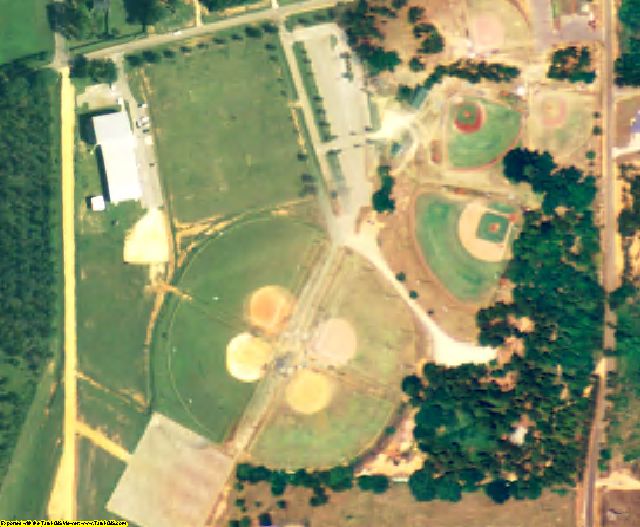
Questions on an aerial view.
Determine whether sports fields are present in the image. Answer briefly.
Yes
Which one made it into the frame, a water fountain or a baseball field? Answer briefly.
baseball field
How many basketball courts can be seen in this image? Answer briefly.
0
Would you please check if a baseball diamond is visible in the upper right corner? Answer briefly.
Yes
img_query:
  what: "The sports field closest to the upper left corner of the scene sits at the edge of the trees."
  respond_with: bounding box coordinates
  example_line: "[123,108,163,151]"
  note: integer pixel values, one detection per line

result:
[133,36,319,224]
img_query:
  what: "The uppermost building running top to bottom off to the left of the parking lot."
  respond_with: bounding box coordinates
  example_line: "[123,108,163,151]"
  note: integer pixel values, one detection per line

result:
[92,111,142,203]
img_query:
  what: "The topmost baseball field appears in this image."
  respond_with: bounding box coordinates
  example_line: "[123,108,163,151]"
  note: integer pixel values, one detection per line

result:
[464,0,534,52]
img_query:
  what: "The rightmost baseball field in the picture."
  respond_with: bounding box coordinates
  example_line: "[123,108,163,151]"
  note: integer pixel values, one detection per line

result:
[528,86,596,164]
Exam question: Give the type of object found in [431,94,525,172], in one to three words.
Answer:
baseball field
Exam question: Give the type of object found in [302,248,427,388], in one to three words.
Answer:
baseball field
